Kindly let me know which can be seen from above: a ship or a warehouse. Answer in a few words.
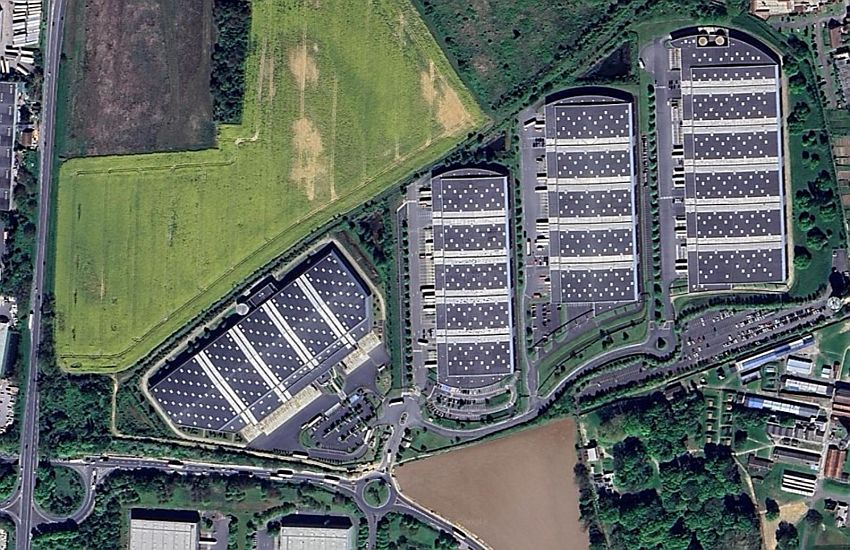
warehouse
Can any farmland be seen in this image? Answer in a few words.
Yes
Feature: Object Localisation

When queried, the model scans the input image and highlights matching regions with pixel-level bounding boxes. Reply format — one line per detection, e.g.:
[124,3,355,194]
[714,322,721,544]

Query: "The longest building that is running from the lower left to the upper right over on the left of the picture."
[150,248,374,432]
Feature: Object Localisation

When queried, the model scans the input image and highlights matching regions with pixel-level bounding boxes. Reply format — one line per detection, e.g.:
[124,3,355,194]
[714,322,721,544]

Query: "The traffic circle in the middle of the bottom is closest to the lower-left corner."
[356,474,398,515]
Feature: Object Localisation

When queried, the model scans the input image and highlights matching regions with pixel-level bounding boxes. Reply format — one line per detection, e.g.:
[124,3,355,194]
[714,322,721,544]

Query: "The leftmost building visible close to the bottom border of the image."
[129,516,200,550]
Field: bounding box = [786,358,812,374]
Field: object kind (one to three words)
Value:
building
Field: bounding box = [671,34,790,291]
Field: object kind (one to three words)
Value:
warehouse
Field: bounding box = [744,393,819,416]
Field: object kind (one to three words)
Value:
shed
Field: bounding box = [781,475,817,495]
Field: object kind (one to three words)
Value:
building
